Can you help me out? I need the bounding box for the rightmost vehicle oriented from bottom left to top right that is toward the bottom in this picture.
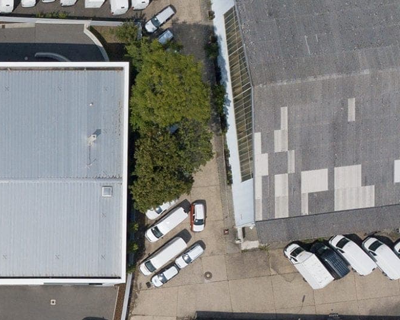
[173,241,208,269]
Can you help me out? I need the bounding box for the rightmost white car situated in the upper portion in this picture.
[143,3,177,33]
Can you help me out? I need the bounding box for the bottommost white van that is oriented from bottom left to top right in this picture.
[148,261,182,290]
